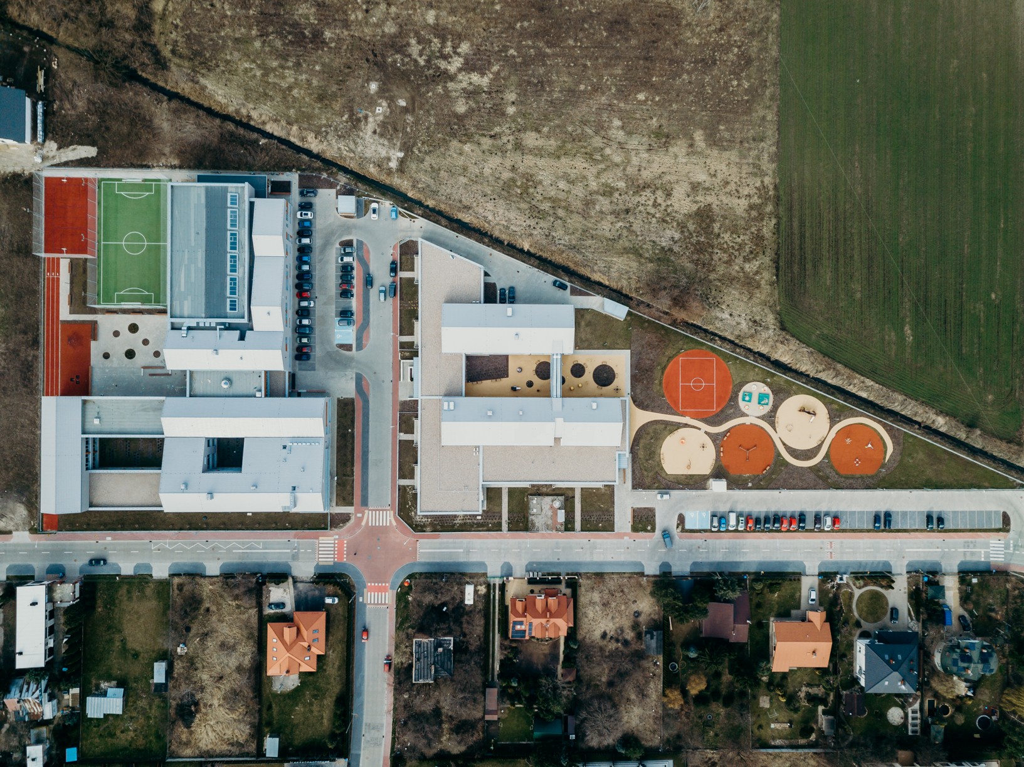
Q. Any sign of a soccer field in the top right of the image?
No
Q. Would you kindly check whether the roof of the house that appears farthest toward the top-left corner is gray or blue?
blue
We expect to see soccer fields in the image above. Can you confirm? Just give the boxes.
[97,177,168,306]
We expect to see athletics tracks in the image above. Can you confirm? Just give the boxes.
[46,257,60,396]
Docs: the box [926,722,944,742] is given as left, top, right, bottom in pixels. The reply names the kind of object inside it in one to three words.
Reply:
shed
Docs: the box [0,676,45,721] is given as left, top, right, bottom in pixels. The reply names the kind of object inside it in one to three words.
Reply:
barn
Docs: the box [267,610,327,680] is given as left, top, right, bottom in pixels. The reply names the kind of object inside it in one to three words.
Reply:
house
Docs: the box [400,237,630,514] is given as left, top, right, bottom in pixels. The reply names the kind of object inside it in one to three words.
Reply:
building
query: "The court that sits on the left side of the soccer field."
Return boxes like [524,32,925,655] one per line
[44,177,97,256]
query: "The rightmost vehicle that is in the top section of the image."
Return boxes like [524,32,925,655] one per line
[552,279,569,291]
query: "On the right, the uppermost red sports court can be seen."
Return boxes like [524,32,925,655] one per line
[663,349,732,419]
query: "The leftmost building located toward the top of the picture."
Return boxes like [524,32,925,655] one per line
[0,88,36,147]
